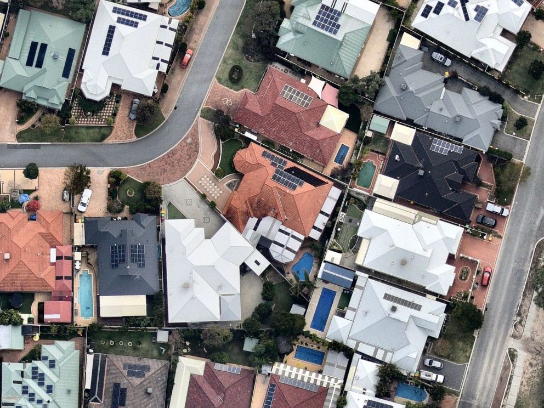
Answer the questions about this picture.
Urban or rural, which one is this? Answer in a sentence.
This place is urban.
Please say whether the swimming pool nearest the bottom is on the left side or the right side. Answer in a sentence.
The swimming pool nearest the bottom sits on the right side.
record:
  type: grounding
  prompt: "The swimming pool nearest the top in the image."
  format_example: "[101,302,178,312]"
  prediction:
[167,0,192,18]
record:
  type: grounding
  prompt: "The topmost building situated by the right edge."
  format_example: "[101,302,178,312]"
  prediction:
[412,0,533,73]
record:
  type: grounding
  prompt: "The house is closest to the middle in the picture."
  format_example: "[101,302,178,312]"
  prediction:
[222,141,341,263]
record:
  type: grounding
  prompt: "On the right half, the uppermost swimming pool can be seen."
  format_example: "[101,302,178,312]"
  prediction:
[334,144,351,166]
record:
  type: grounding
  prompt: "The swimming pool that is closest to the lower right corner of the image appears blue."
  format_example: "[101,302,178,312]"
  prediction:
[394,381,428,403]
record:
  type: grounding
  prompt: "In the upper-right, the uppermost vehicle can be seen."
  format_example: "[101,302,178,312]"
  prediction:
[432,51,451,66]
